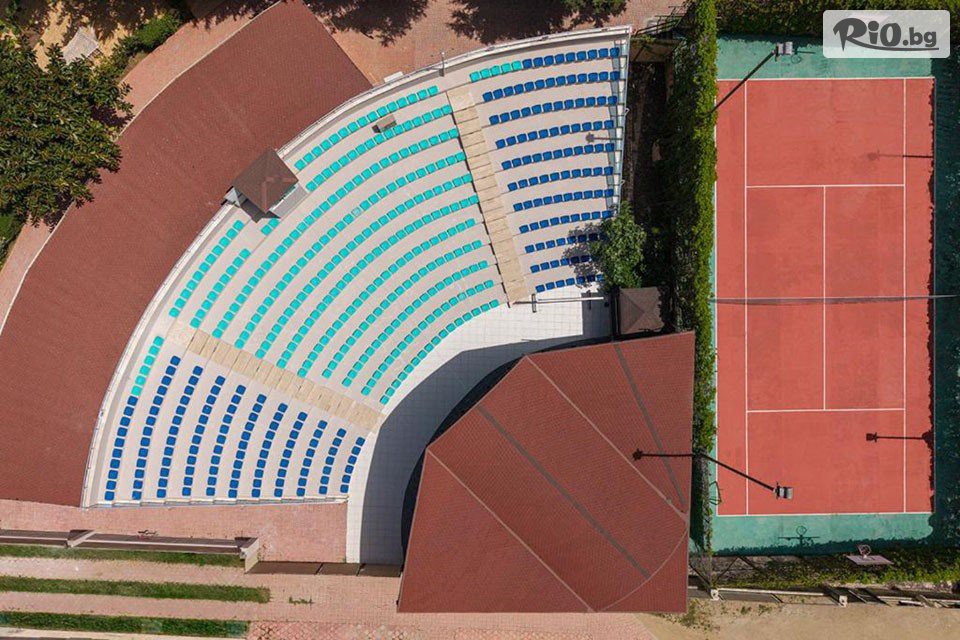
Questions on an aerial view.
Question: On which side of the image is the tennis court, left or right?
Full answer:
You can find the tennis court on the right side of the picture.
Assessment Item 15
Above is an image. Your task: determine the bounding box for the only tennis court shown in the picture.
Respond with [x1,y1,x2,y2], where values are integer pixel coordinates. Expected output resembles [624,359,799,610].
[708,34,960,556]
